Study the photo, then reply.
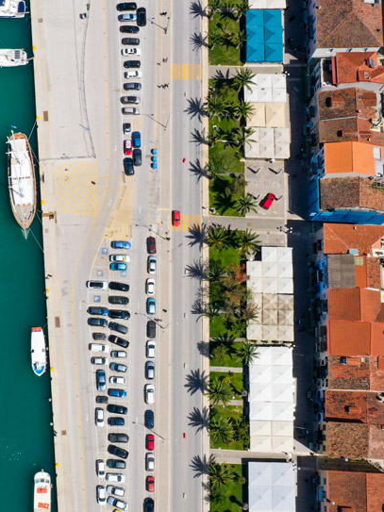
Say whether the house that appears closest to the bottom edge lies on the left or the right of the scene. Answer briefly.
right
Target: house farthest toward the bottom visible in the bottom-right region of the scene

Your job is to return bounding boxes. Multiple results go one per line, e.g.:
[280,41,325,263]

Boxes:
[312,471,384,512]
